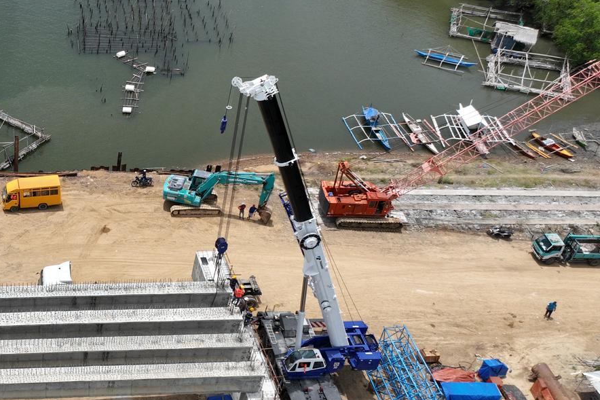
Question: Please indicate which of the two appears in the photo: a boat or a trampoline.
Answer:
boat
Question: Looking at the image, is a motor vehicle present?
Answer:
Yes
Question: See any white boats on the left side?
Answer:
No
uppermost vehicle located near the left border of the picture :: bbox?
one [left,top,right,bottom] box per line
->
[1,173,66,213]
